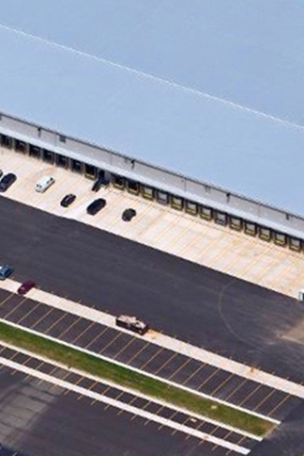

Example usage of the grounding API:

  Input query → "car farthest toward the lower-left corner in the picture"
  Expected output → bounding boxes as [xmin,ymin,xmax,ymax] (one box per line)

[16,279,36,293]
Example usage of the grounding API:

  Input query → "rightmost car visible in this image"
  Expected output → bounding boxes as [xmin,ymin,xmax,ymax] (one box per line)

[120,207,136,220]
